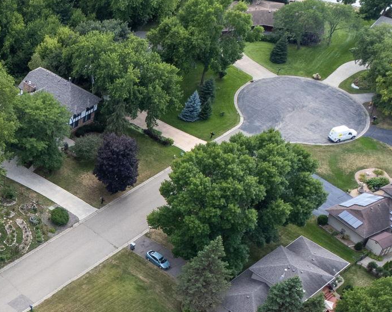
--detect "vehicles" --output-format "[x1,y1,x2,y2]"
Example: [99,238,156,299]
[145,251,173,270]
[327,124,360,142]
